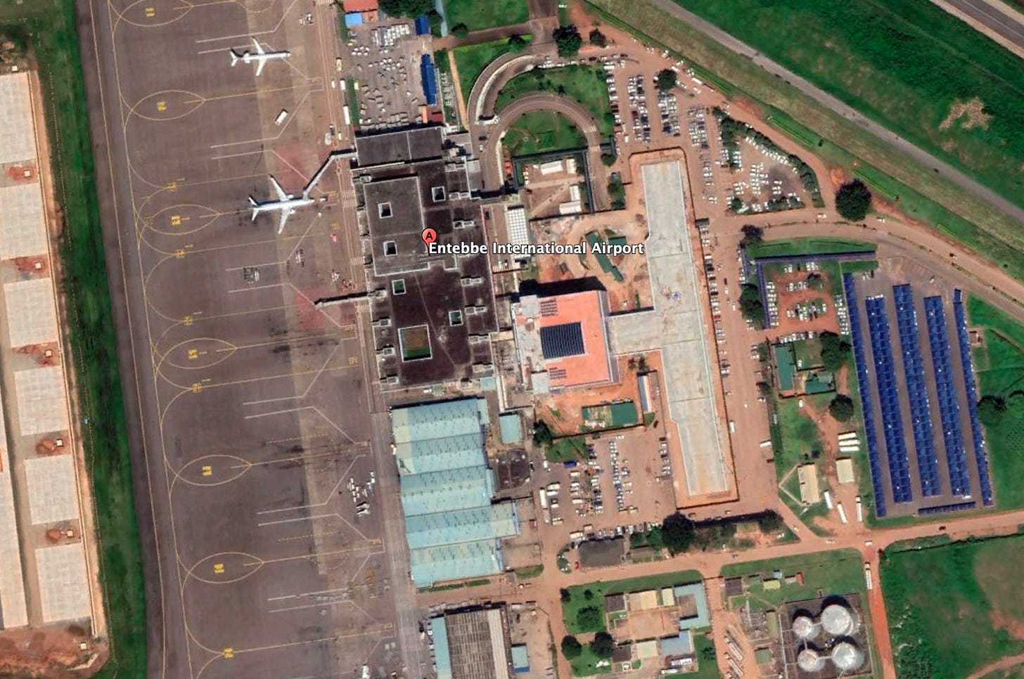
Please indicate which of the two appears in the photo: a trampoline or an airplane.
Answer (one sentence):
Of the two, only an airplane appears.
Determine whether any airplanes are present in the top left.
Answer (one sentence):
Yes, an airplane is visible in the top left.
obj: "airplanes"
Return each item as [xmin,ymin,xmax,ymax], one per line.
[248,177,314,234]
[226,39,291,76]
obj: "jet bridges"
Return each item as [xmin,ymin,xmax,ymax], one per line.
[314,296,369,309]
[302,151,358,200]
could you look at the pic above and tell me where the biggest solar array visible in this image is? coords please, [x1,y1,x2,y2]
[540,321,584,359]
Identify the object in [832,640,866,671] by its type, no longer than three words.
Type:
storage tank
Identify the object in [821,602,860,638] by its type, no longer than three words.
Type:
storage tank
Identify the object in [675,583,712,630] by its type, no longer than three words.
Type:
building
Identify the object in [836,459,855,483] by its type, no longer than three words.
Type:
shed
